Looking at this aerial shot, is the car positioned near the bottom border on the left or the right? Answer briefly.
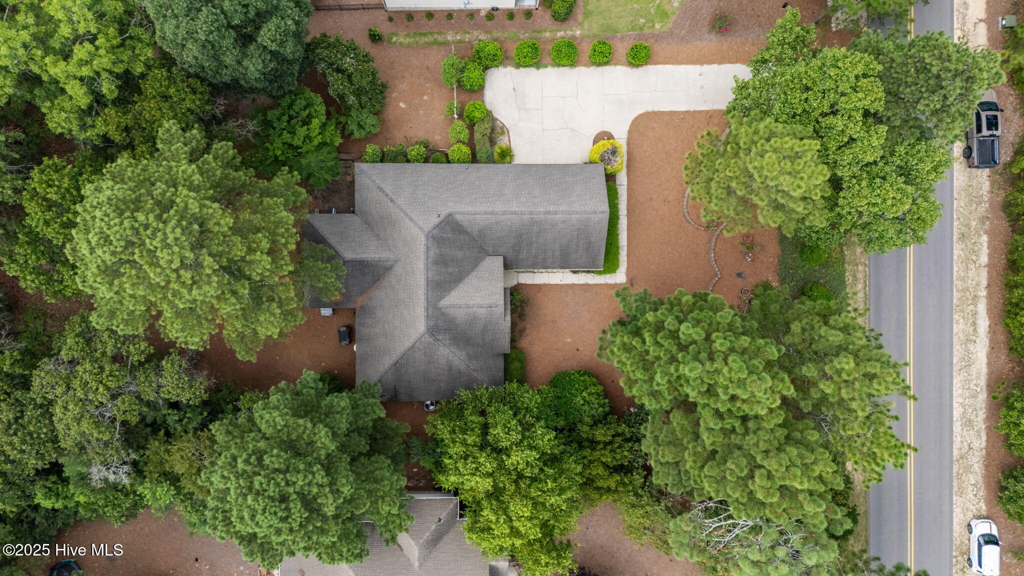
right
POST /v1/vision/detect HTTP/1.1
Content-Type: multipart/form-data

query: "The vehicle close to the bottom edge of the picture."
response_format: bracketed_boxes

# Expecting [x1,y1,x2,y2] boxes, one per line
[965,518,1001,576]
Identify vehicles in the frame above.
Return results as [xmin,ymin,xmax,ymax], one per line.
[961,88,1002,171]
[965,518,1001,576]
